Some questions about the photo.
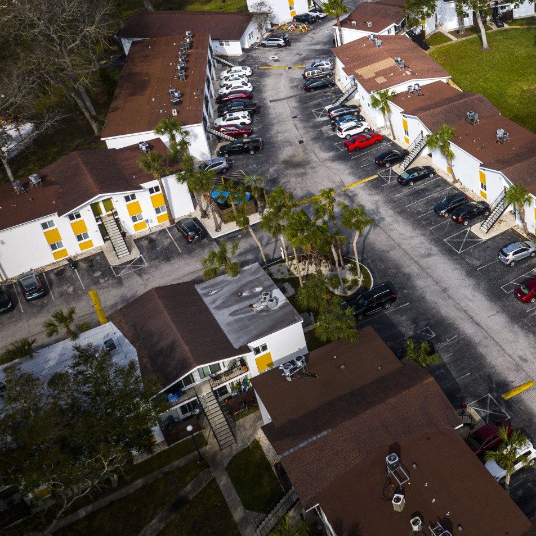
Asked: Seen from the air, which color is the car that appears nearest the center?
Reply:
black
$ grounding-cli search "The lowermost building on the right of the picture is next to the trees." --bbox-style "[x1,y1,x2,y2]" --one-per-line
[229,324,536,536]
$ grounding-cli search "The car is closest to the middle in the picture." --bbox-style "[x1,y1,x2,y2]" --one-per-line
[176,219,206,247]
